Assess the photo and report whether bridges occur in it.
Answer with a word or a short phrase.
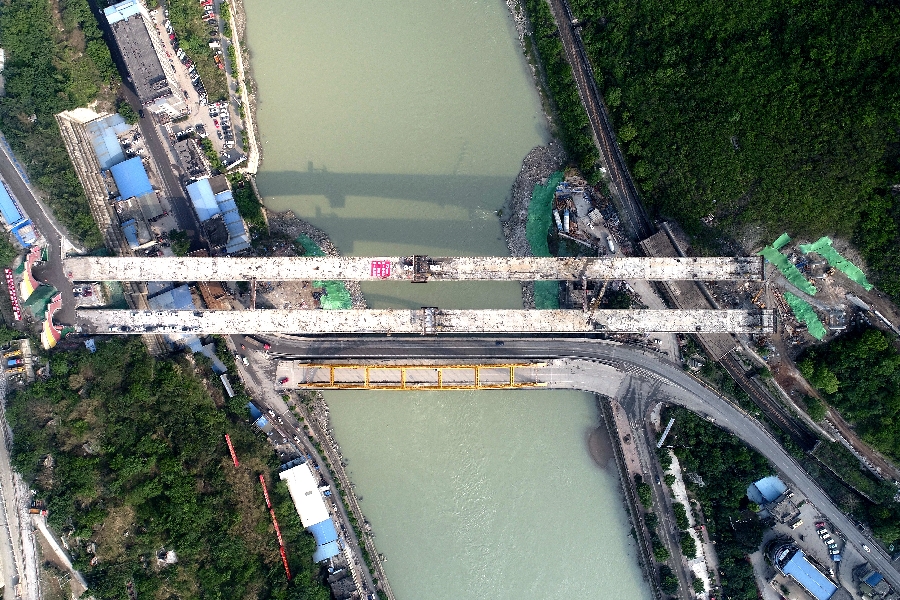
Yes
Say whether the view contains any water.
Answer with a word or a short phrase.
Yes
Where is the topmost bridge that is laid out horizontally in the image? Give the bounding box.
[69,257,762,281]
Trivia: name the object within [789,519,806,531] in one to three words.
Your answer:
vehicle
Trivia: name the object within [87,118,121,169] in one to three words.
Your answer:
shed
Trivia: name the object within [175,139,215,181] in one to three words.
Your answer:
house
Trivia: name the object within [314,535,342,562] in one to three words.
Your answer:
building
